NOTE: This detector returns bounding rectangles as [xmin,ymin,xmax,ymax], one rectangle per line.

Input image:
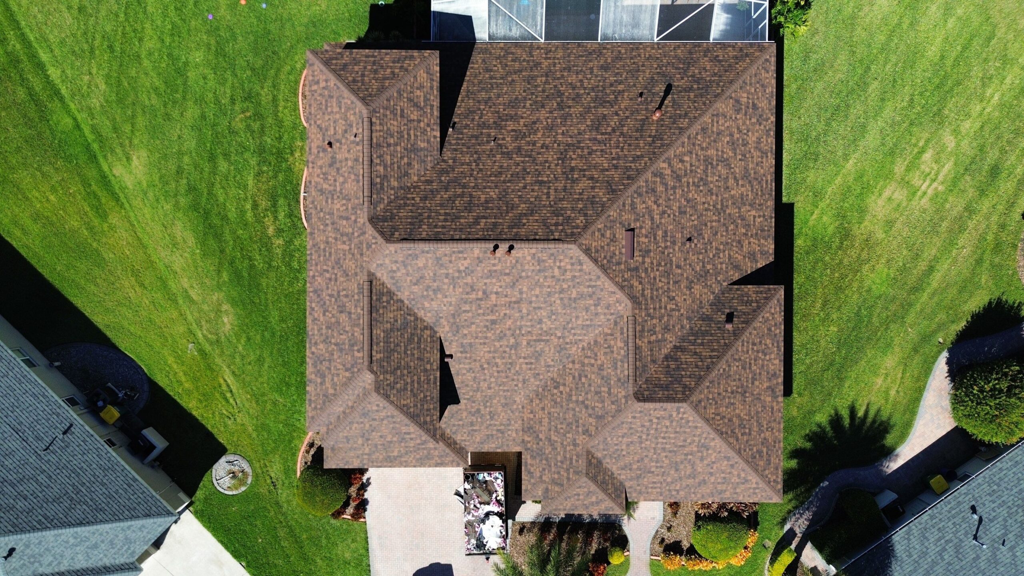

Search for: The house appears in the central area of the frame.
[301,40,783,514]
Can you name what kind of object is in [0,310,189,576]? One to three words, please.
house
